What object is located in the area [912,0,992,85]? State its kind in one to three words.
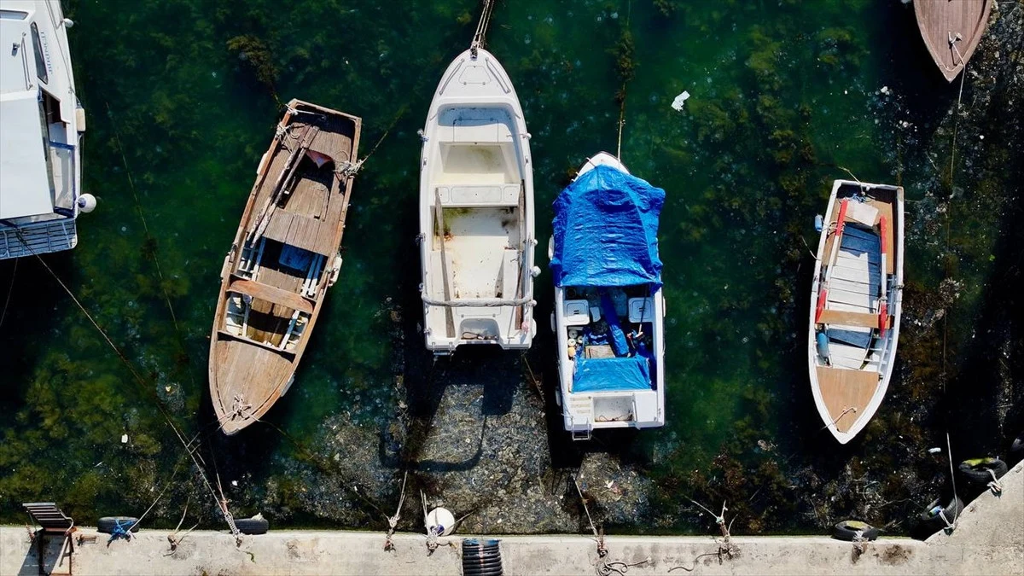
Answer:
boat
